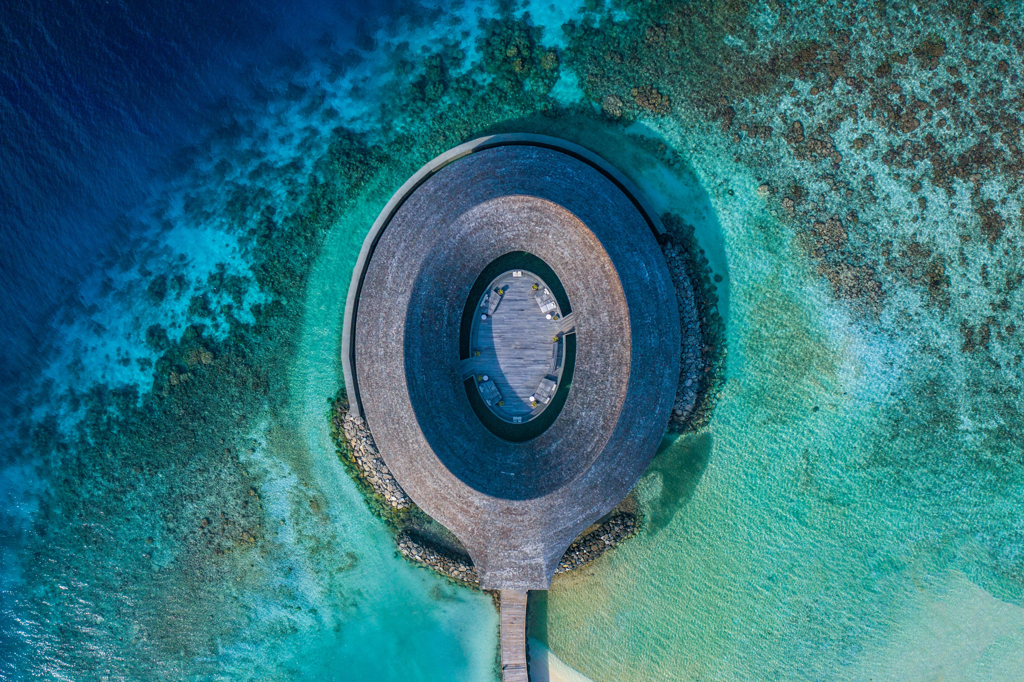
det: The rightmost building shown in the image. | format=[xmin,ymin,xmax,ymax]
[355,145,681,590]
